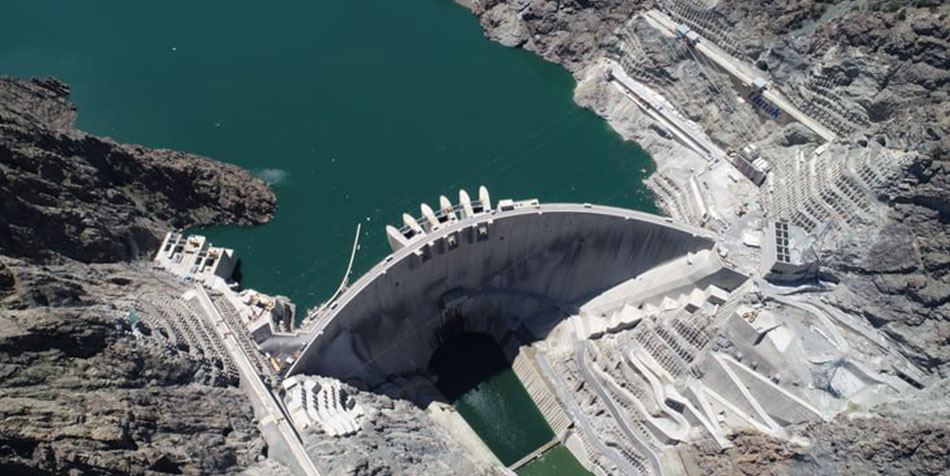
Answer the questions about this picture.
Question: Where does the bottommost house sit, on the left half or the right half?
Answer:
right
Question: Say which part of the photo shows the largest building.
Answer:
right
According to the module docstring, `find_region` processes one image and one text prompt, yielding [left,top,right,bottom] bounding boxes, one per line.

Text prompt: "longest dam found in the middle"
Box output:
[277,187,720,380]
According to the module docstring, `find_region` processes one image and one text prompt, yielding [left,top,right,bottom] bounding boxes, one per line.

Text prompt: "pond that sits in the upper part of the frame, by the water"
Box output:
[0,0,658,328]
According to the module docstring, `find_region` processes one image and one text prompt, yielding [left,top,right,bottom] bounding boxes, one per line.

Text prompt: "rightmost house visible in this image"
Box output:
[892,369,924,394]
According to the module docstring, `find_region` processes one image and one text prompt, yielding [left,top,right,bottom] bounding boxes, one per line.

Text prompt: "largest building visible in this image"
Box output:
[758,219,799,275]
